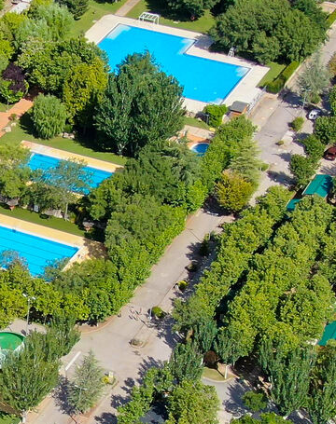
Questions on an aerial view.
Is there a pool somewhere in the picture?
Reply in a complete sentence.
Yes, you can see a pool in this photo.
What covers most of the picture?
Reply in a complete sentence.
Most of the picture is covered by trees.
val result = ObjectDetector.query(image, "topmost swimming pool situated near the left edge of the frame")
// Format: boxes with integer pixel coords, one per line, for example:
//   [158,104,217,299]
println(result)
[4,151,114,197]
